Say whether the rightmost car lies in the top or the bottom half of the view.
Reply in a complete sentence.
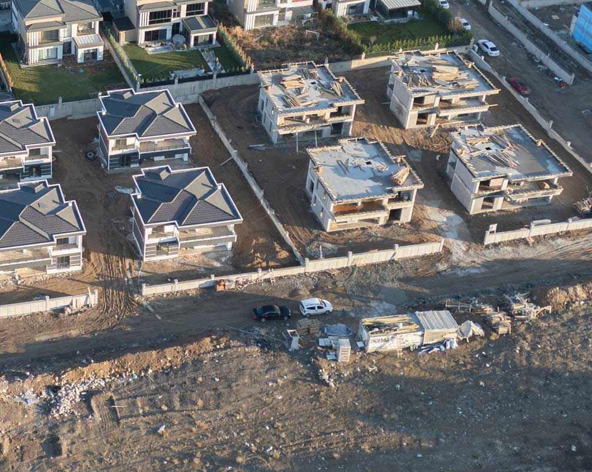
The top half of the photo is where the rightmost car is.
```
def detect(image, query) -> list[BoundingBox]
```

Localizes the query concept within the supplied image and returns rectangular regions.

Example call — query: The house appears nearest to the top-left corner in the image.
[15,0,107,66]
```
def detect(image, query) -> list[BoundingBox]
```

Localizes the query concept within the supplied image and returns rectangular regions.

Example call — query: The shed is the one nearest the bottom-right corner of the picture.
[414,300,466,340]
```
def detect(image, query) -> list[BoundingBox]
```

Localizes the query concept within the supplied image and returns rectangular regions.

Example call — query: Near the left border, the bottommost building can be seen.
[0,177,83,276]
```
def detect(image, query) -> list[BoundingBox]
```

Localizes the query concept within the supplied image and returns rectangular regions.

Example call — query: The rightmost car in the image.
[506,74,533,95]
